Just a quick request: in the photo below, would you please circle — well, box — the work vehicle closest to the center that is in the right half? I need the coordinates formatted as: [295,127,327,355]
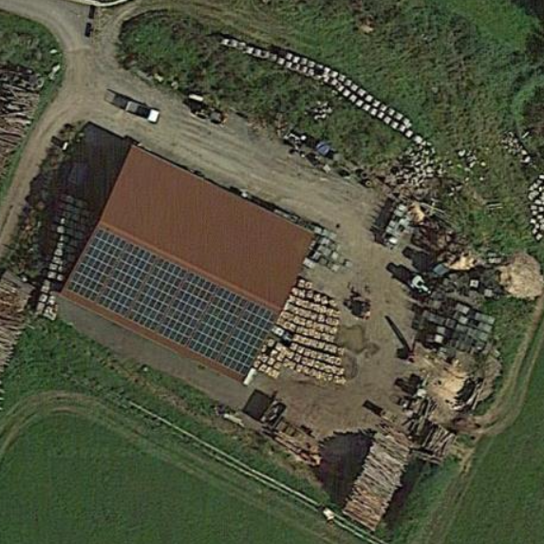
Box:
[347,288,368,317]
